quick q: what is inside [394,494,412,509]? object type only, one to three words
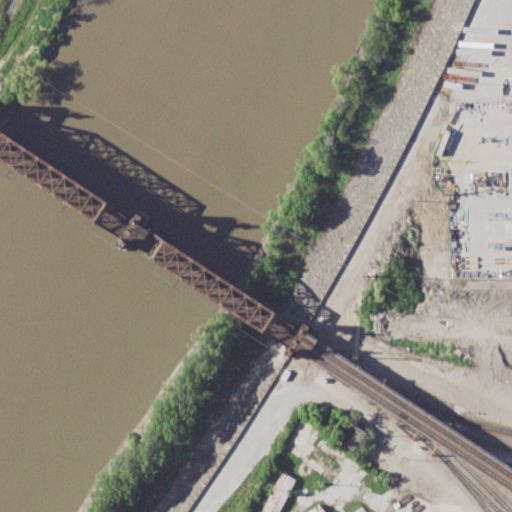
vehicle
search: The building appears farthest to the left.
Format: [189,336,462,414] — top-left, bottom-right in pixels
[262,476,293,512]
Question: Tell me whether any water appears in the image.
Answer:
Yes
